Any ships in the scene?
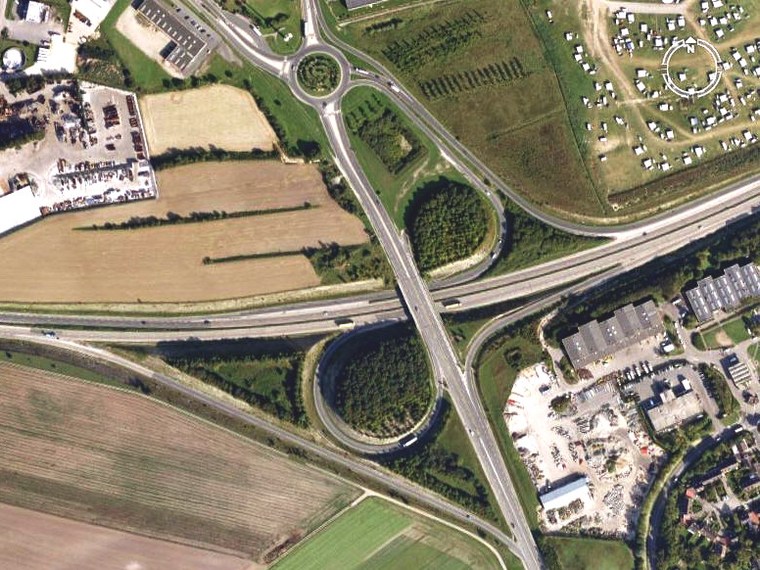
No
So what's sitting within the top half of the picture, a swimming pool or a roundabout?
roundabout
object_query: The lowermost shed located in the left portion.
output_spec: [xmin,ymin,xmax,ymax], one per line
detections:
[0,184,41,230]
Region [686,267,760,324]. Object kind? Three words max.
building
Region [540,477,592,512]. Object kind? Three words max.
barn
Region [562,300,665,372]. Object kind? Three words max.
building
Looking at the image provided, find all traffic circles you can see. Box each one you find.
[287,42,352,107]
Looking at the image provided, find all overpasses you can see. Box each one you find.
[391,258,446,344]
